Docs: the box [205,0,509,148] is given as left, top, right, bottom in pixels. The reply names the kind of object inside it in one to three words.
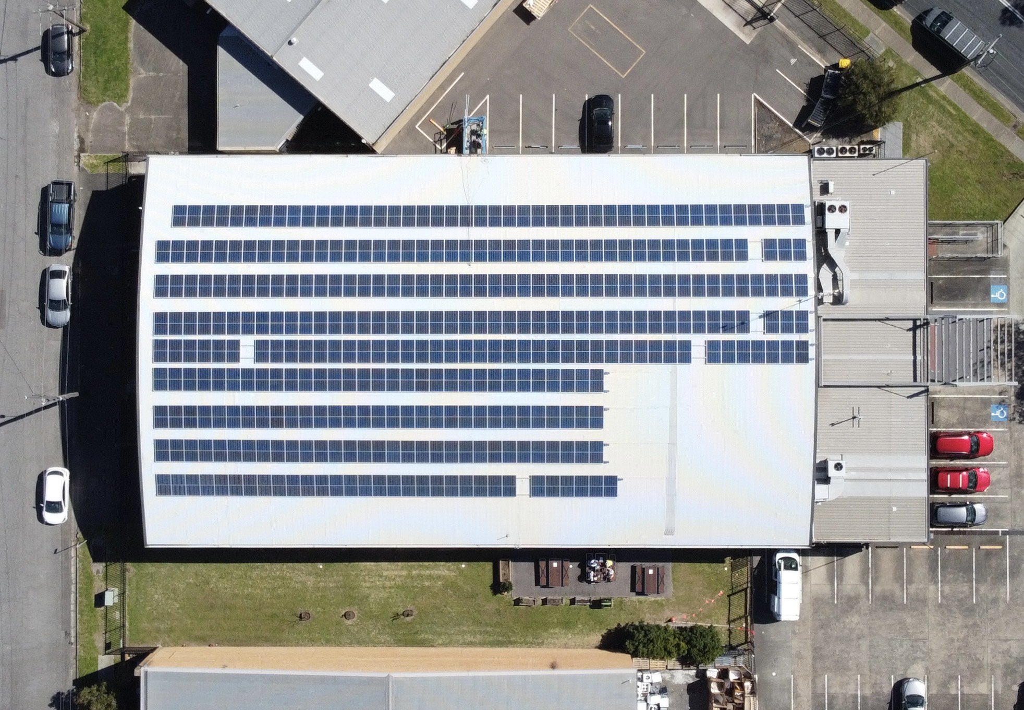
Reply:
building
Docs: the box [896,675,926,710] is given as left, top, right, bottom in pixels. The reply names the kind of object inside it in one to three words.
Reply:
car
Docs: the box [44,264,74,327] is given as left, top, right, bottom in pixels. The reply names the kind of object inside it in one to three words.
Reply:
car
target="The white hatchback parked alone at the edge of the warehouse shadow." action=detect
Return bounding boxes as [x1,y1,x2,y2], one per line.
[42,466,71,523]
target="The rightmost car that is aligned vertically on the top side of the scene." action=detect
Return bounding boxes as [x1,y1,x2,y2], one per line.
[588,94,616,153]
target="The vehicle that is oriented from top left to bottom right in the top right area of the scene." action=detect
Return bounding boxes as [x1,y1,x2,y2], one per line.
[921,9,985,64]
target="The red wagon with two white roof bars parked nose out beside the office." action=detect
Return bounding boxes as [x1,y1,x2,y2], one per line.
[930,466,989,493]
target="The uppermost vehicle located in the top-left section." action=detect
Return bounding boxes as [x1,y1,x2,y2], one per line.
[47,23,75,78]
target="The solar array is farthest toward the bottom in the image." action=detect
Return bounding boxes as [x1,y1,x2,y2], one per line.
[156,474,623,496]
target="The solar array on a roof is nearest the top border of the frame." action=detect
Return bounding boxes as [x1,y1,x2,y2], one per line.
[171,204,810,226]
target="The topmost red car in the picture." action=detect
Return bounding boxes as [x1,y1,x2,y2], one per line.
[930,431,992,459]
